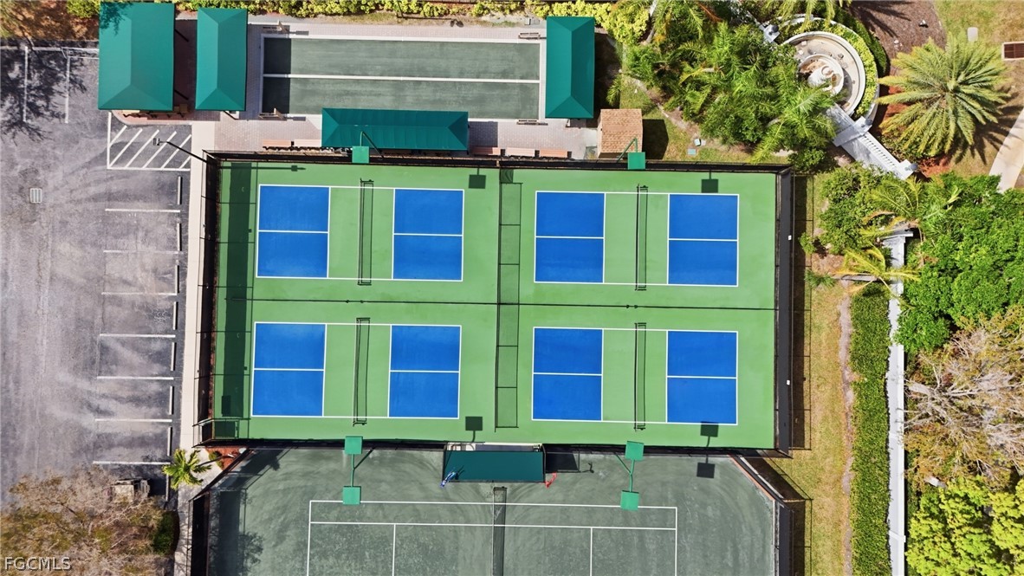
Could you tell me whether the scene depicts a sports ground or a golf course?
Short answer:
sports ground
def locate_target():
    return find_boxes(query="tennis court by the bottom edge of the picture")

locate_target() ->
[208,449,775,576]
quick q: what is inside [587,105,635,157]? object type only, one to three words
shed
